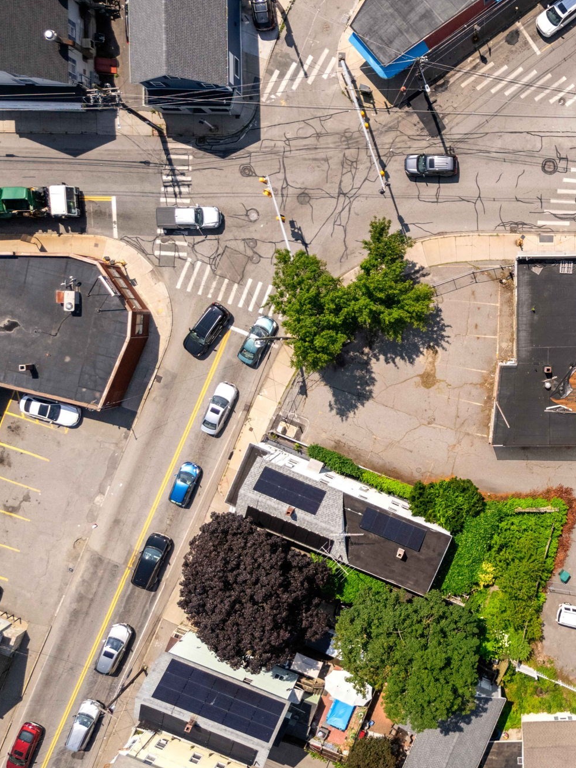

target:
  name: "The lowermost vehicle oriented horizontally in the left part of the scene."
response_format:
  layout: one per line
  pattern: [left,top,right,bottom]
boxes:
[15,393,85,428]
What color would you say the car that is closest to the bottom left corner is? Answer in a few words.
red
